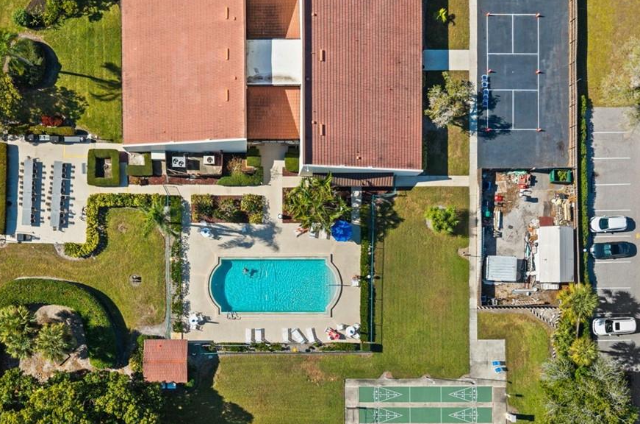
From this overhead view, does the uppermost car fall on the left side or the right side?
right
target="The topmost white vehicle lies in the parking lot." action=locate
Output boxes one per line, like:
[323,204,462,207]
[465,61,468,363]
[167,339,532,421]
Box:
[587,215,630,234]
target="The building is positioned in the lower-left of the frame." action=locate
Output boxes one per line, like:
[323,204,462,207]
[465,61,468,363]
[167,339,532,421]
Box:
[141,339,186,383]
